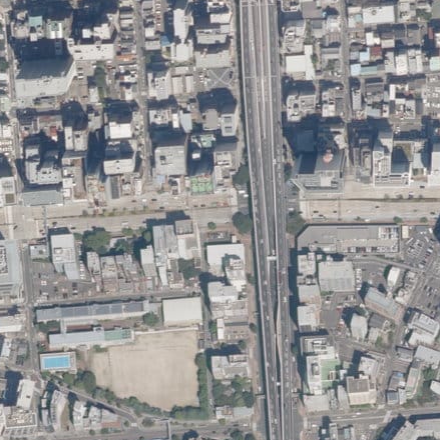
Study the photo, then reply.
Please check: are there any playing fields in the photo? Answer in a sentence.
Yes, looking at the shot, I can spot a playing field.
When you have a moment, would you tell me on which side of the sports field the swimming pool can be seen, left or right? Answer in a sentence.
Relative to the sports field, the swimming pool lies to the left.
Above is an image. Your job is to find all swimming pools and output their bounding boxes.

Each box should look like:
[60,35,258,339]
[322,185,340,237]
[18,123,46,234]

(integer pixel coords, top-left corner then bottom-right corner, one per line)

[41,352,77,372]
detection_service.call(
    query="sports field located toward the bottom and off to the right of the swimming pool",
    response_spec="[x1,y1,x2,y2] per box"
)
[89,329,199,409]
